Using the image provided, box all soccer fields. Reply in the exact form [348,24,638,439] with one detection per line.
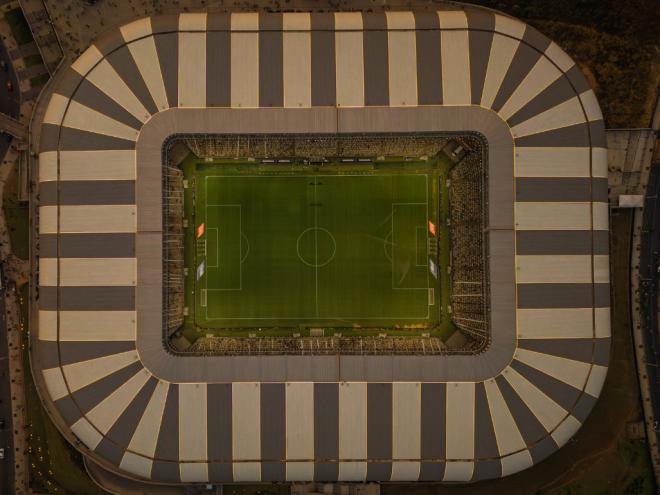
[170,148,465,347]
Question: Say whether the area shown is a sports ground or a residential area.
sports ground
